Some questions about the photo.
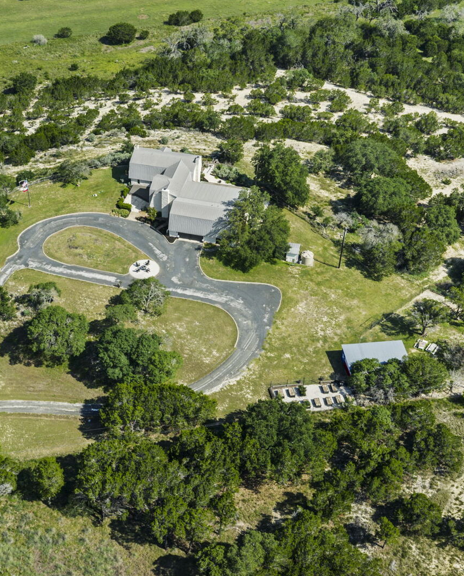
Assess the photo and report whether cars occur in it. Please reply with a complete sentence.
No, the photo shows no car.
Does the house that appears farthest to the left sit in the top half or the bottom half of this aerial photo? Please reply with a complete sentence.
You can find the house that appears farthest to the left in the top half.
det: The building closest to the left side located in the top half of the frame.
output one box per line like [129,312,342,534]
[129,140,245,245]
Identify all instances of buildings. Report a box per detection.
[129,140,245,245]
[286,242,300,263]
[340,339,412,380]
